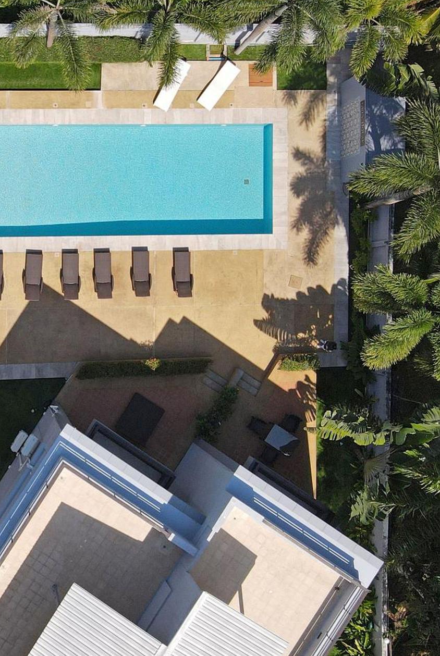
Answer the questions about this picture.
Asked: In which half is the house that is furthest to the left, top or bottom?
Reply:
bottom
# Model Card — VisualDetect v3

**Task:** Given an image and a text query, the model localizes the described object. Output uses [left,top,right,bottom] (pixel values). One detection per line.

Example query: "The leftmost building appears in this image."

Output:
[0,400,205,656]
